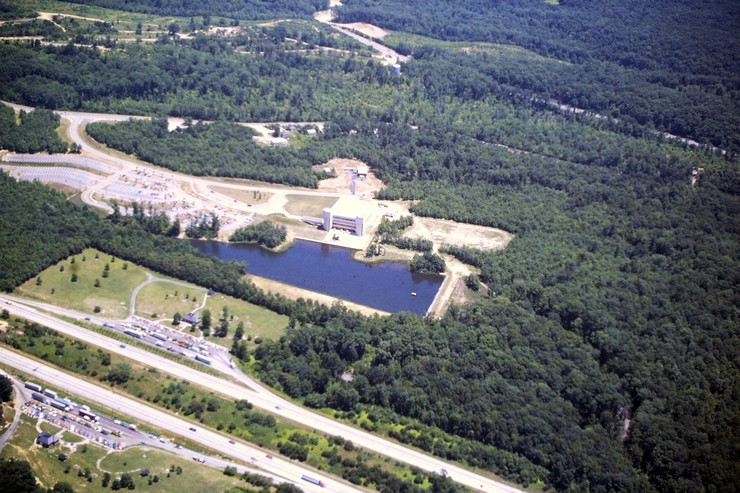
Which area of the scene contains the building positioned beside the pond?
center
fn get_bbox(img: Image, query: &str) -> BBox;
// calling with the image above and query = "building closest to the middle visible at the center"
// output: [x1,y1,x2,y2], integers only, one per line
[323,198,378,236]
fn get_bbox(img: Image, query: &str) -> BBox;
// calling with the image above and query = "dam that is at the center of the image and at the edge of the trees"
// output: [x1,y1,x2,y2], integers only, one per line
[426,273,462,318]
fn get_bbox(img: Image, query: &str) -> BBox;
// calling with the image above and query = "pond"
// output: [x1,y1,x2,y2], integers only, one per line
[184,239,442,316]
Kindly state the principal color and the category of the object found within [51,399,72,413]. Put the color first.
white vehicle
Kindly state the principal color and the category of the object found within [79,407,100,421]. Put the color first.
white vehicle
